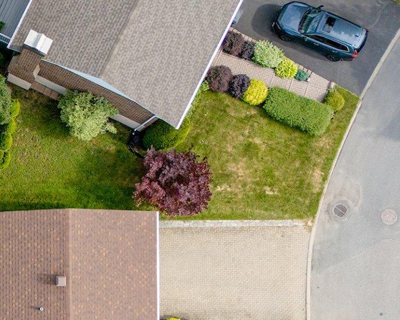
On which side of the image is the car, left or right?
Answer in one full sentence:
The car is on the right side of the image.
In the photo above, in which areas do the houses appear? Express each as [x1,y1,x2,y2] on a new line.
[0,209,162,320]
[0,0,241,130]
